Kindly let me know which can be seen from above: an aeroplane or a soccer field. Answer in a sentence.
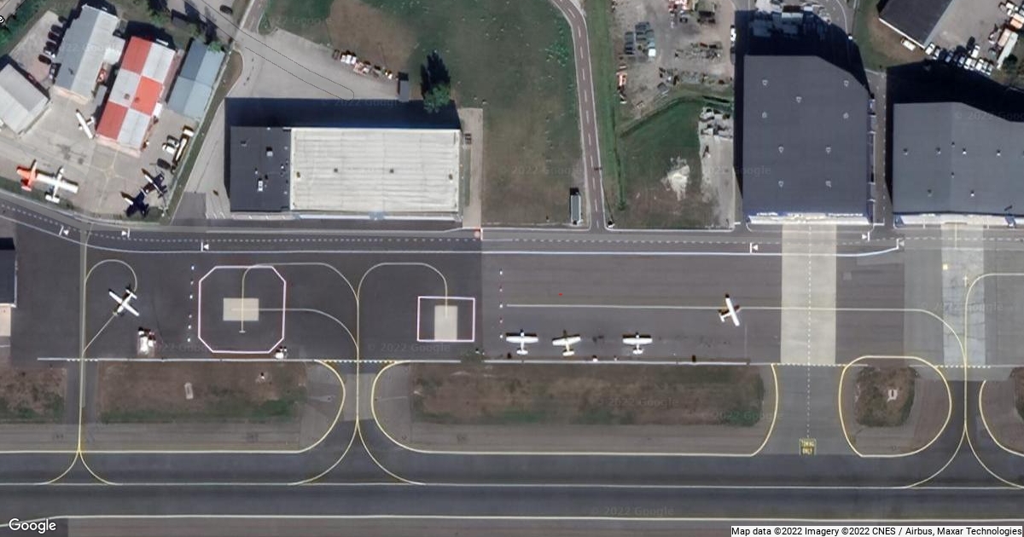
The image shows an aeroplane.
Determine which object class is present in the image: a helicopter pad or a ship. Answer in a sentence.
This aerial view contains a helicopter pad.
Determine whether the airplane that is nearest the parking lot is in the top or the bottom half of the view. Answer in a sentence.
Seen from above, the airplane that is nearest the parking lot lies in the top half of the view.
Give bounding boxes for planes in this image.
[140,171,167,198]
[506,332,538,356]
[38,174,78,204]
[123,191,150,219]
[108,285,139,313]
[552,335,581,358]
[622,335,652,357]
[75,113,99,138]
[717,297,740,325]
[18,167,47,191]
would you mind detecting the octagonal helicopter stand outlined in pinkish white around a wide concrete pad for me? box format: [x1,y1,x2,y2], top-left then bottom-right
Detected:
[198,265,286,353]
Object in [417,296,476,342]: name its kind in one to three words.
helipad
